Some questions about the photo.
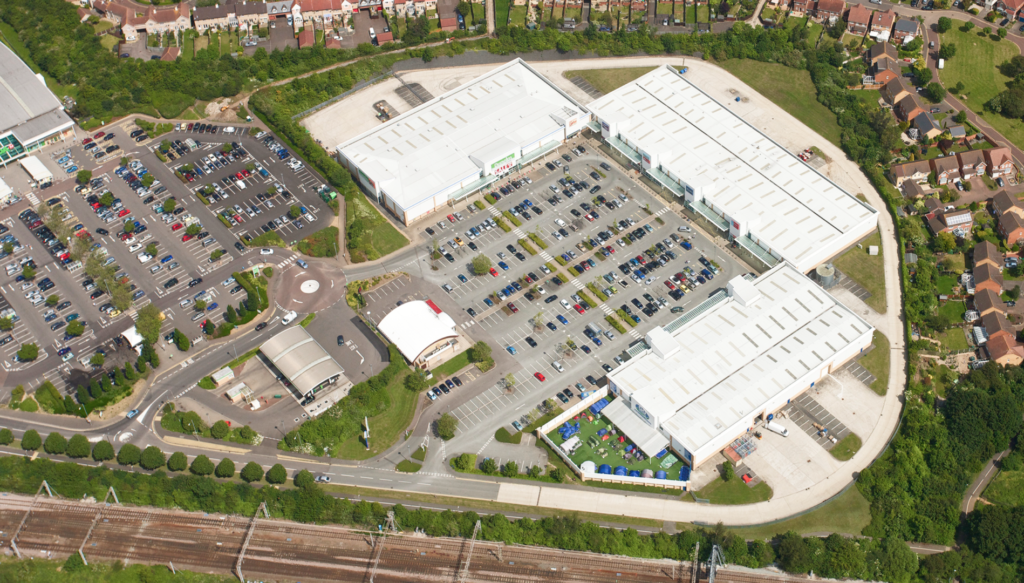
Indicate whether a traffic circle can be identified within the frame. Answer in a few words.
Yes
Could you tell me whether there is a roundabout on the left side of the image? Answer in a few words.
Yes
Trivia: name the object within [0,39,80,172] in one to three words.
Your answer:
building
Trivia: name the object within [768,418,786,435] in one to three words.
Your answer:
vehicle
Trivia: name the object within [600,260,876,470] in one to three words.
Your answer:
building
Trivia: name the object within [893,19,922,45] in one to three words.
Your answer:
house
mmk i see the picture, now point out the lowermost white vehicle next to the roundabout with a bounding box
[281,308,297,325]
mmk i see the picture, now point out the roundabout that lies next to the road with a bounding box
[273,261,346,312]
